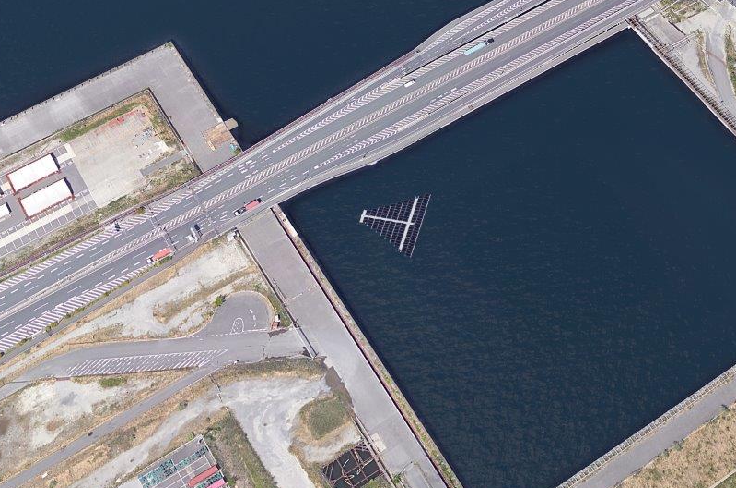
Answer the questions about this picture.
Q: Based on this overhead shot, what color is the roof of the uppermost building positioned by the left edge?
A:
white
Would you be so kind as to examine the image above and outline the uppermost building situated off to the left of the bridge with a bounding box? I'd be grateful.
[7,153,63,197]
